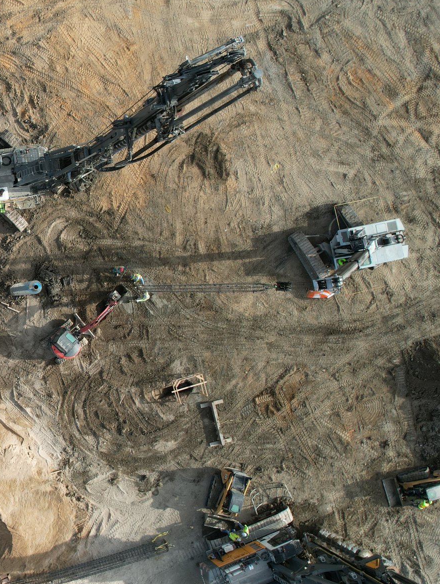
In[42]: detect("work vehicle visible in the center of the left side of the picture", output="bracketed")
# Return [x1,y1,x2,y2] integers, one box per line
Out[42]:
[39,290,121,366]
